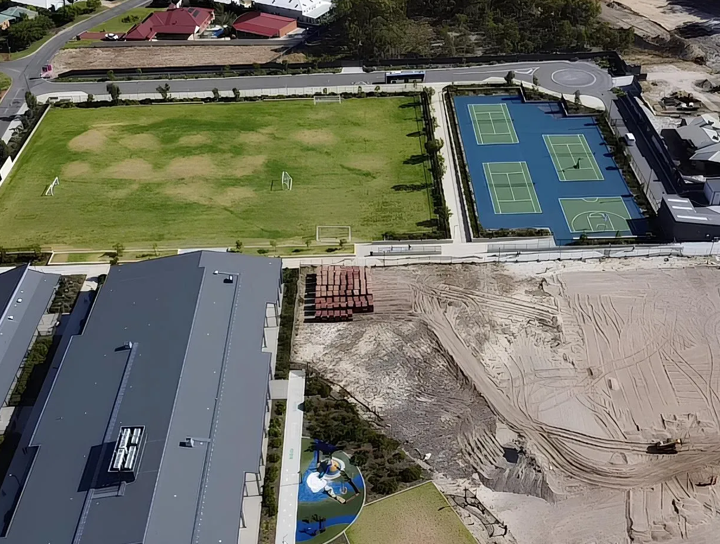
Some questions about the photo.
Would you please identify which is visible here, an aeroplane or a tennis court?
tennis court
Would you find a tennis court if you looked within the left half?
No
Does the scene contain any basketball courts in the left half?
No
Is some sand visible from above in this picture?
Yes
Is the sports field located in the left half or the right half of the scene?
left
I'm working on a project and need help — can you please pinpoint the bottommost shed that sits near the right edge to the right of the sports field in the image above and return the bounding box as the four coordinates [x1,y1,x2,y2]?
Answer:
[660,198,720,239]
